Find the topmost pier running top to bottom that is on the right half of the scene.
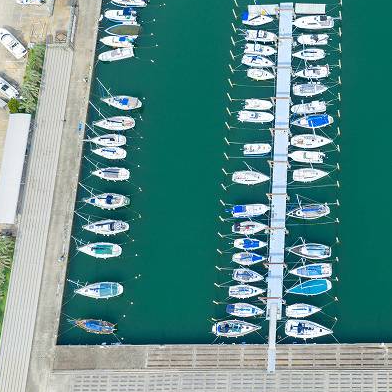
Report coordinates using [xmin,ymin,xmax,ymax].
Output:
[263,3,297,319]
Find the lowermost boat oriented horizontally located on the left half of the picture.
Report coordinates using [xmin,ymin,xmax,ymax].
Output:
[57,312,121,337]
